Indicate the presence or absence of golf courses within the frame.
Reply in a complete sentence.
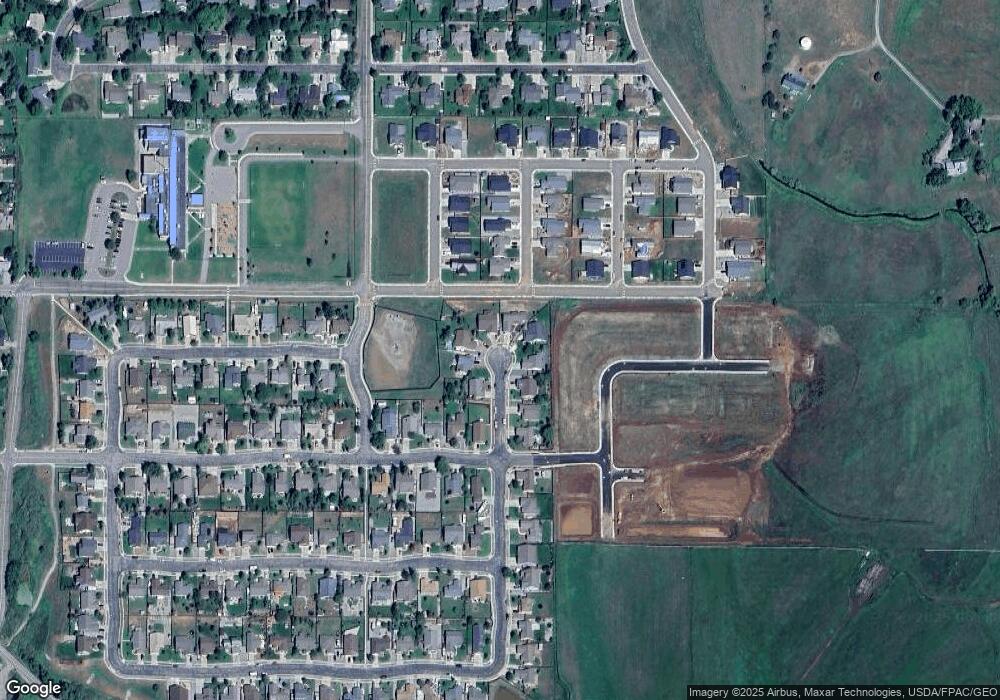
No, I can't see a single golf course in this photo.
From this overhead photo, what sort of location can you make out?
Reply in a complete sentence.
The area seen from above is a residential area.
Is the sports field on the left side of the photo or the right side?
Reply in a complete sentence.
The sports field appears in the left half of the scene.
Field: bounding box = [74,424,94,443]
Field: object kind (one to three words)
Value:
house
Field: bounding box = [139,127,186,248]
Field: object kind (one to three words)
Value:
building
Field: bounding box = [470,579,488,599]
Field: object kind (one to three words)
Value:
house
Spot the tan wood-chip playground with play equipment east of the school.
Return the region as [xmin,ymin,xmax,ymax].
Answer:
[217,203,238,255]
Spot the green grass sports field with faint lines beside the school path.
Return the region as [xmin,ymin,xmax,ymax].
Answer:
[249,162,306,248]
